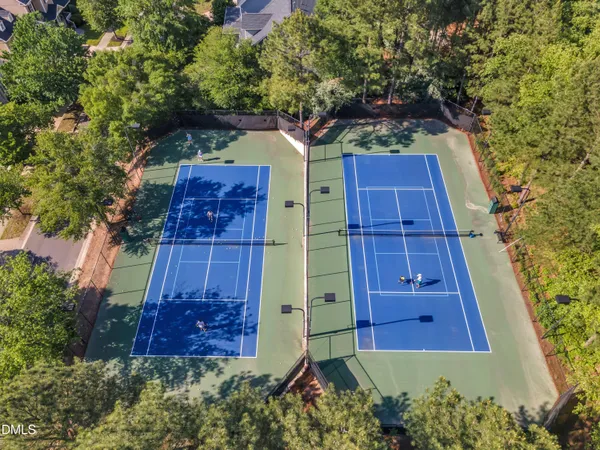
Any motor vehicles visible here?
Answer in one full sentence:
No, no motor vehicle can be seen from above.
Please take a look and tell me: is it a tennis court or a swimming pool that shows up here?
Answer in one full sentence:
I can see a tennis court in this picture.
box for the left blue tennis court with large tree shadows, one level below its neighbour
[77,129,304,431]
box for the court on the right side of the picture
[308,118,550,426]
